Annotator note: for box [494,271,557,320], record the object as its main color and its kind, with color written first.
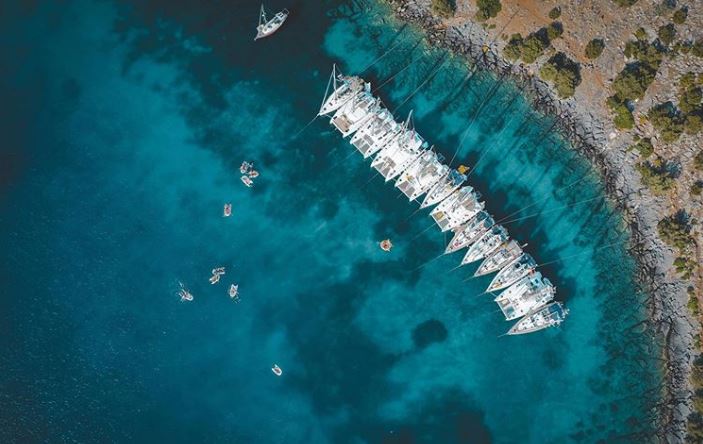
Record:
white boat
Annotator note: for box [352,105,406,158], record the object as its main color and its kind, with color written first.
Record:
white boat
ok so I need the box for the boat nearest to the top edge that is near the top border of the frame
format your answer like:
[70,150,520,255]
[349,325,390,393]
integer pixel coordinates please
[255,8,290,41]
